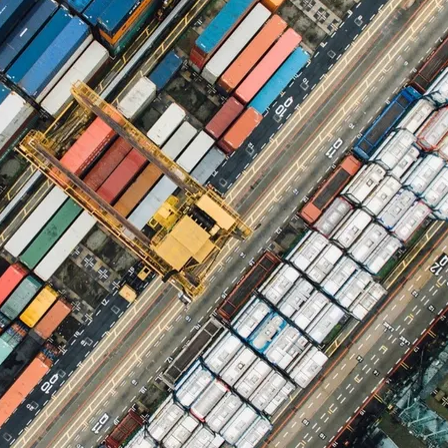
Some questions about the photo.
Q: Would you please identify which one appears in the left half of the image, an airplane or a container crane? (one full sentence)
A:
You can see a container crane in the left half of the image.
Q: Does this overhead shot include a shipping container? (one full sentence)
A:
Yes, the frame does contain a shipping container.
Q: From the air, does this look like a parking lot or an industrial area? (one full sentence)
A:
This looks like an industrial area.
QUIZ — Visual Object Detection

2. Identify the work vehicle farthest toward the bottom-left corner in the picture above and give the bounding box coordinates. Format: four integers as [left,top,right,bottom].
[116,274,147,305]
